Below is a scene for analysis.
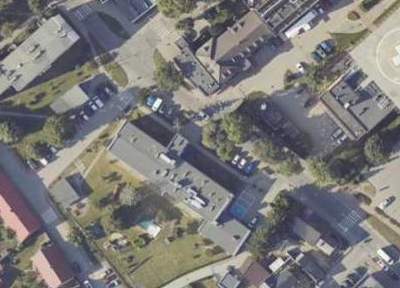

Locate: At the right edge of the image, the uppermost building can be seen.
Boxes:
[320,69,396,135]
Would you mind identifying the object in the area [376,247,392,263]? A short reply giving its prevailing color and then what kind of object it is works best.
white vehicle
